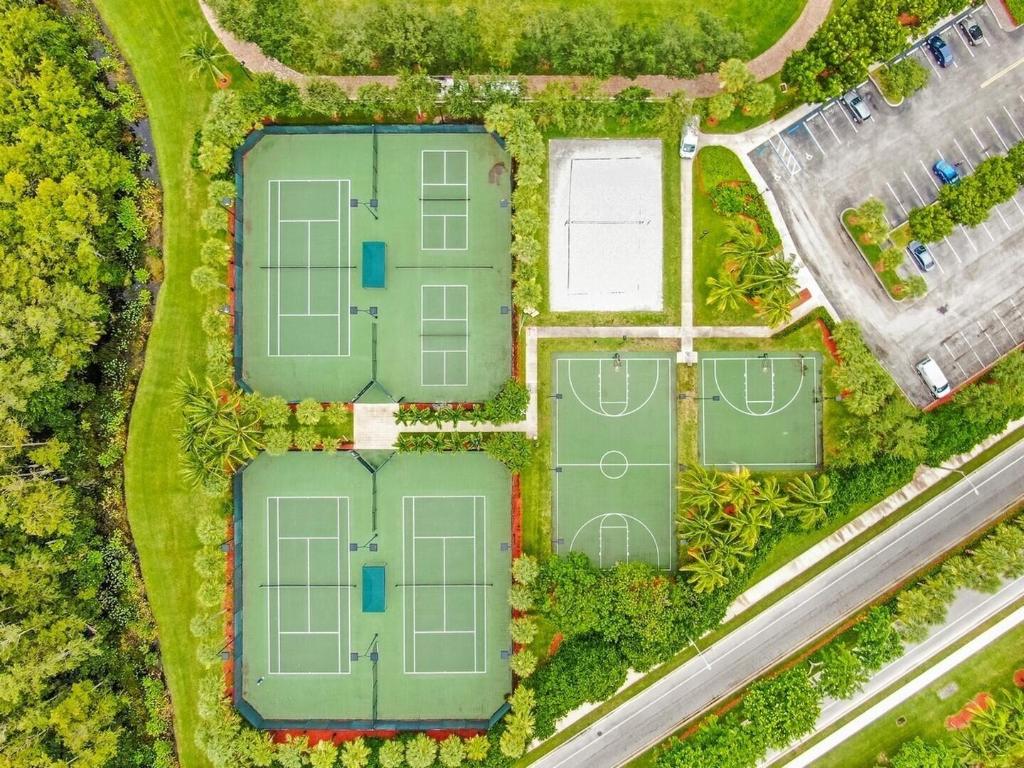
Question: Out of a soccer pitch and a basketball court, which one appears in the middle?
basketball court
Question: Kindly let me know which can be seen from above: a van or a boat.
van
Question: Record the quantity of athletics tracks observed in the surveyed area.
0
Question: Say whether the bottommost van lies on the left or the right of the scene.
right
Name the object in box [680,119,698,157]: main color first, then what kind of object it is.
white vehicle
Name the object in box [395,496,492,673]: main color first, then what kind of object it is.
green tennis court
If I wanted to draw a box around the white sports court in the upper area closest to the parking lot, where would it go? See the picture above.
[549,139,663,311]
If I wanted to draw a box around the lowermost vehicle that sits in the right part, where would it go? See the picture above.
[915,357,948,395]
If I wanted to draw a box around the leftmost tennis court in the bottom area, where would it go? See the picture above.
[259,497,355,674]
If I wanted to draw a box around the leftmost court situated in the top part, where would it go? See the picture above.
[259,180,355,356]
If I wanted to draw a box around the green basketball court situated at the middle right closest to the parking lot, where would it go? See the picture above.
[699,352,823,470]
